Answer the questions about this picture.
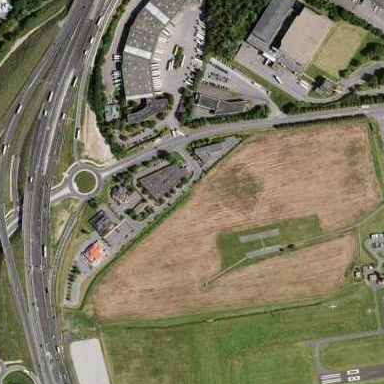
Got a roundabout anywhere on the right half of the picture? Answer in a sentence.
No, on the right half of the picture there is no roundabout.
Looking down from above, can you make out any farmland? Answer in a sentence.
Yes, some farmland is visible.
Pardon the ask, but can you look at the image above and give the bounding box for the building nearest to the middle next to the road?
[139,165,181,200]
